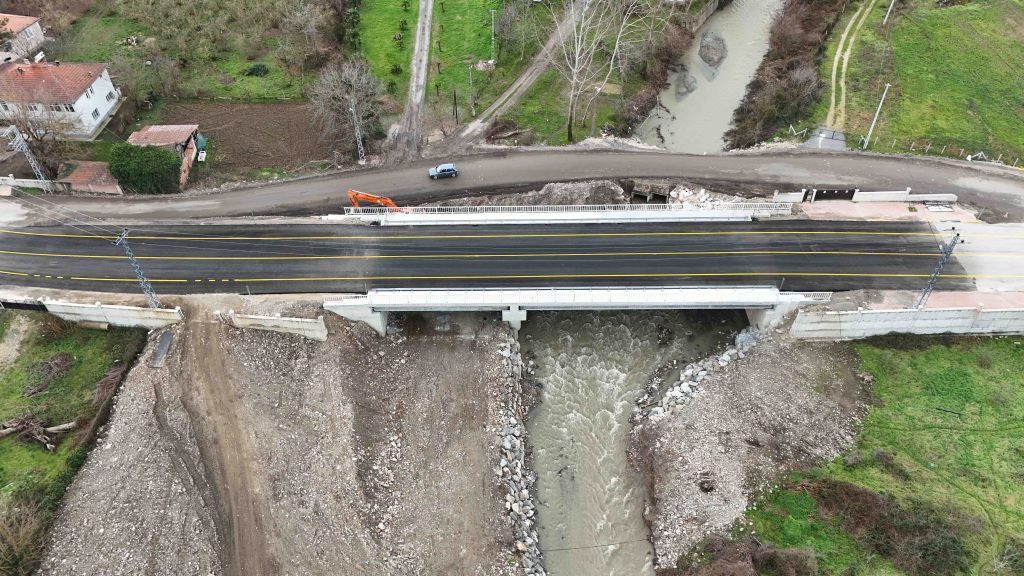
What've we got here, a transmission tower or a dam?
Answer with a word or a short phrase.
transmission tower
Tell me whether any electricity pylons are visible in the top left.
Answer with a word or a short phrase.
Yes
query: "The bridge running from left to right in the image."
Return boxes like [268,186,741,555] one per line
[320,201,835,337]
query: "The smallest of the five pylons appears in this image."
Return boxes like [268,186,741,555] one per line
[486,8,498,63]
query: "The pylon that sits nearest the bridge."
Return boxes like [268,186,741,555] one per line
[350,96,367,163]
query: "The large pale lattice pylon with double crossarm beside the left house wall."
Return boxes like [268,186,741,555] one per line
[7,121,57,193]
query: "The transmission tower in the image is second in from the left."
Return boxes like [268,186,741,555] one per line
[108,224,164,315]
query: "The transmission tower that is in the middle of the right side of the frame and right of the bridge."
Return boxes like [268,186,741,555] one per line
[913,226,971,314]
